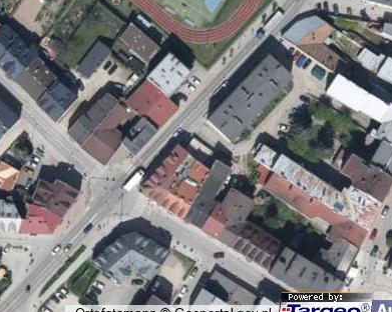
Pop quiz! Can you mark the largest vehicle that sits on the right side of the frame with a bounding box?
[258,8,286,38]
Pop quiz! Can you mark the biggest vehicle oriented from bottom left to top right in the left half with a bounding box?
[123,169,145,190]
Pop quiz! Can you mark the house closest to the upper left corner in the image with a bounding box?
[0,25,39,79]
